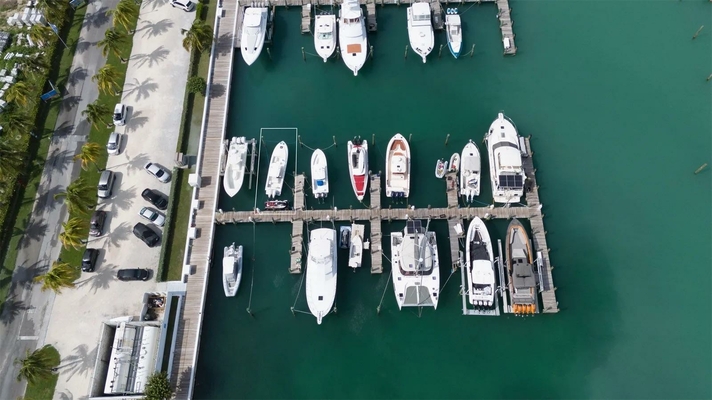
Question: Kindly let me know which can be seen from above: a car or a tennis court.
car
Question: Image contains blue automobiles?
No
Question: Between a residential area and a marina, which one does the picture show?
marina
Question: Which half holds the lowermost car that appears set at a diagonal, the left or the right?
left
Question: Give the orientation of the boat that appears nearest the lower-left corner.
up and down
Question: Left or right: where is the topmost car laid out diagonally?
left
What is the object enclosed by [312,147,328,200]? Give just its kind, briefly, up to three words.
boat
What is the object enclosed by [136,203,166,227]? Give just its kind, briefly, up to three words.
car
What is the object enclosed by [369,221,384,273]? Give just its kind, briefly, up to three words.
pier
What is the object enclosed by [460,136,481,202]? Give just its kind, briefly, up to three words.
boat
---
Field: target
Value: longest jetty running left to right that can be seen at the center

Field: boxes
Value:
[215,202,544,227]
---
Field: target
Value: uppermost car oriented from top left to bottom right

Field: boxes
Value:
[144,160,172,184]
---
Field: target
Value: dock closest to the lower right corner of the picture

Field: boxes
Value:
[528,218,559,312]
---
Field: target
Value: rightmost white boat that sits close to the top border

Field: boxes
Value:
[446,7,462,58]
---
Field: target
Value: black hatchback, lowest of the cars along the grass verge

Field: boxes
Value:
[81,245,101,275]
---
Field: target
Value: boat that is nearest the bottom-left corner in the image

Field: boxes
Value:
[222,242,243,298]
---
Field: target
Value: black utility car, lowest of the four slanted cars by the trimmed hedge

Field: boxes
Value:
[131,220,163,248]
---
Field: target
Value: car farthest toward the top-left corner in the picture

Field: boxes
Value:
[112,102,129,127]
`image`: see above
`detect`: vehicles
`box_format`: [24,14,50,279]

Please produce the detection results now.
[170,0,196,13]
[140,186,168,211]
[97,168,117,200]
[112,102,129,127]
[106,130,124,157]
[88,209,108,239]
[136,203,166,227]
[144,160,172,184]
[131,220,163,248]
[81,245,101,275]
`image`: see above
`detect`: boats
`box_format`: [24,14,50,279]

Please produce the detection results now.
[487,112,526,210]
[350,233,362,271]
[312,147,328,200]
[309,0,338,62]
[405,0,435,61]
[448,153,460,173]
[386,133,410,202]
[224,137,247,196]
[503,218,537,316]
[349,134,369,199]
[266,140,287,201]
[460,136,481,202]
[446,7,462,58]
[389,221,441,319]
[222,242,243,298]
[435,158,446,179]
[240,3,267,66]
[266,200,289,209]
[305,227,339,324]
[337,0,367,75]
[465,216,496,311]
